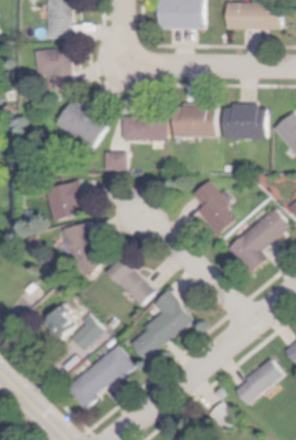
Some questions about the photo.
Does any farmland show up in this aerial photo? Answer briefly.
No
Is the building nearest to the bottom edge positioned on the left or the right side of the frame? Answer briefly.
right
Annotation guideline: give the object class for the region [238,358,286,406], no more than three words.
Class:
house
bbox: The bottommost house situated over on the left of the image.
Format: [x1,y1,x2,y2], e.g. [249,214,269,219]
[72,345,138,407]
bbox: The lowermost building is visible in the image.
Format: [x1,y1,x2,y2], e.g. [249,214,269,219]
[208,402,233,427]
